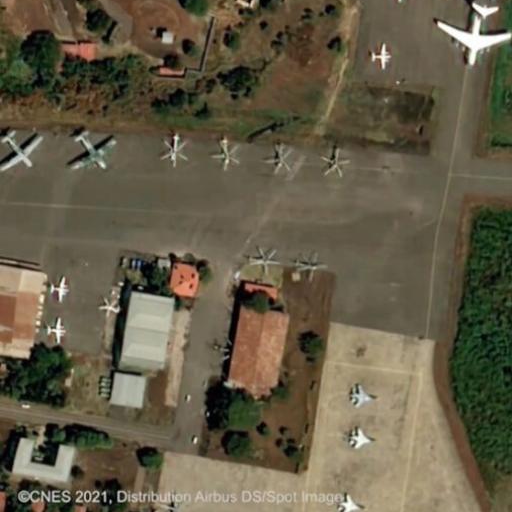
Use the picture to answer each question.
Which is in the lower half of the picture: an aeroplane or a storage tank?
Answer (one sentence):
The feature located in the lower half of the picture is an aeroplane.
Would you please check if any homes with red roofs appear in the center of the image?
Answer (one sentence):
Yes, the scene does show a home with a red roof in the center of the image.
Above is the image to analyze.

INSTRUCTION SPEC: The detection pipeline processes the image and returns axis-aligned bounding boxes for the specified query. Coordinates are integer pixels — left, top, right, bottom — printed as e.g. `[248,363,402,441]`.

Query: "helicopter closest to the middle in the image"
[245,247,280,277]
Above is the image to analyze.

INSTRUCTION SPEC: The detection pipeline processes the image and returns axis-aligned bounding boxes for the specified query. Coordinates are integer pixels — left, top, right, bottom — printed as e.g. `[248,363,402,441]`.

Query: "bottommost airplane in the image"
[338,494,369,512]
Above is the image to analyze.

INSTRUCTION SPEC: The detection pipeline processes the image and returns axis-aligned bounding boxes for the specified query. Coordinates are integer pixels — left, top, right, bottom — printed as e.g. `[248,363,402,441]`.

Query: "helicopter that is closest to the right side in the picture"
[322,144,351,177]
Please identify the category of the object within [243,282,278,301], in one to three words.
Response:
house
